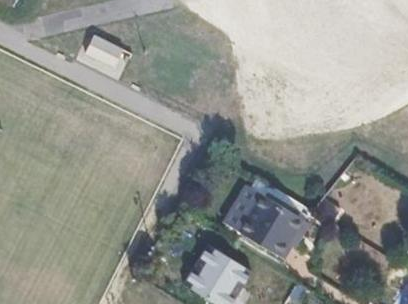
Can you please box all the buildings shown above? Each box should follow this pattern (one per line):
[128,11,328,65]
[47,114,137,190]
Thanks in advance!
[286,285,307,304]
[186,250,252,304]
[77,36,132,80]
[222,180,307,259]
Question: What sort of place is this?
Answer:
sports ground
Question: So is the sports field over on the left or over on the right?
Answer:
left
